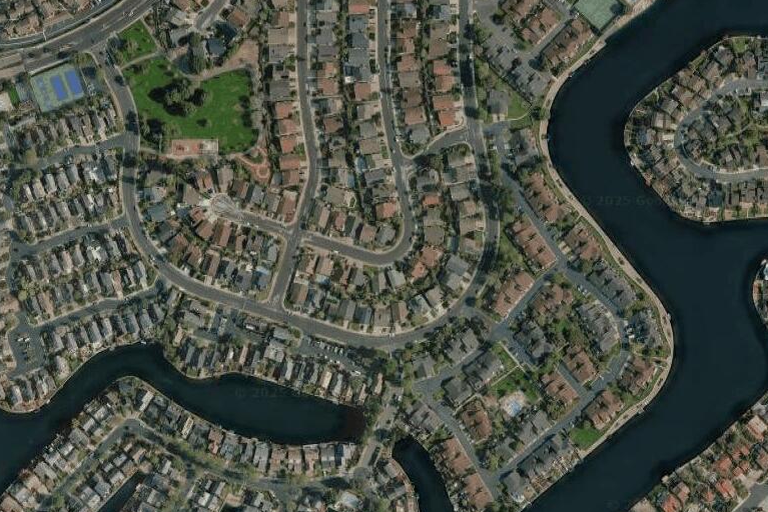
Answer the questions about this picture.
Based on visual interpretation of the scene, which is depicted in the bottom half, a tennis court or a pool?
pool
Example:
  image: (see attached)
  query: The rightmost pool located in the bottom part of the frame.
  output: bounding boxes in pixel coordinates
[499,393,529,418]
